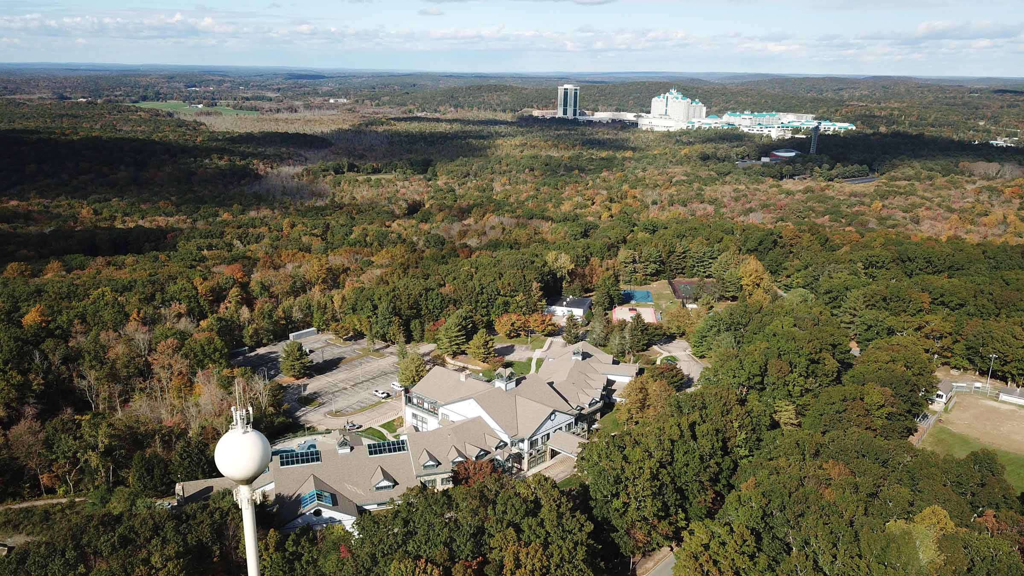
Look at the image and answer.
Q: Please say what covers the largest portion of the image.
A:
trees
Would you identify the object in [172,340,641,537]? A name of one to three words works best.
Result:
building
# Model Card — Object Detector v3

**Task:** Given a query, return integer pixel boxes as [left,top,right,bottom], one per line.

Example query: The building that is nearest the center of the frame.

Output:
[547,295,596,319]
